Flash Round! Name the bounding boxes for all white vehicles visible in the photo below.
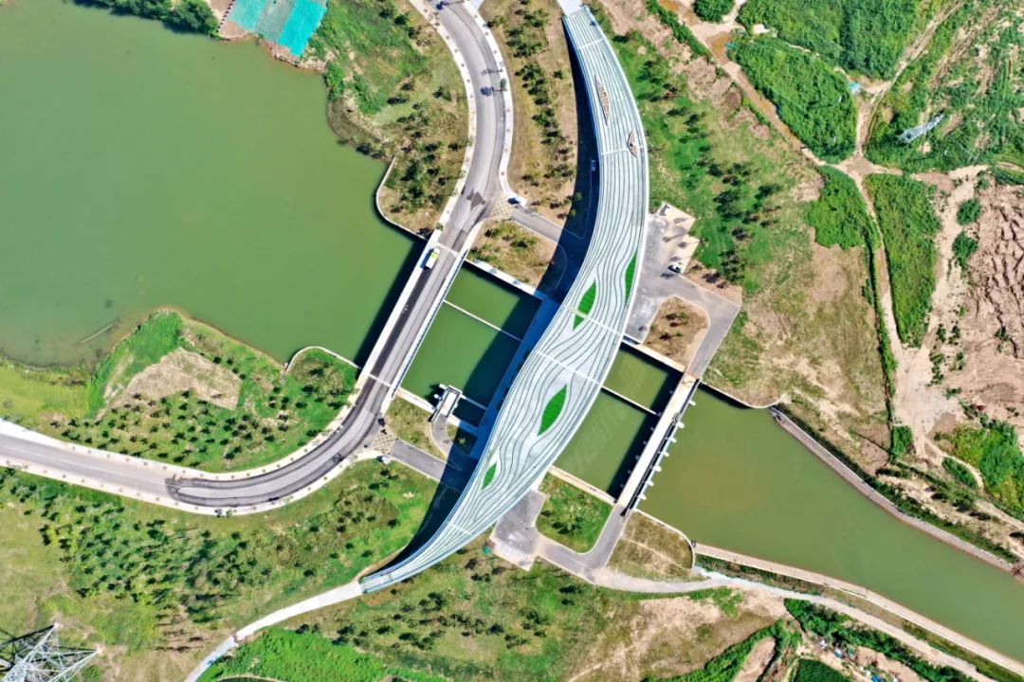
[426,249,440,269]
[671,263,682,271]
